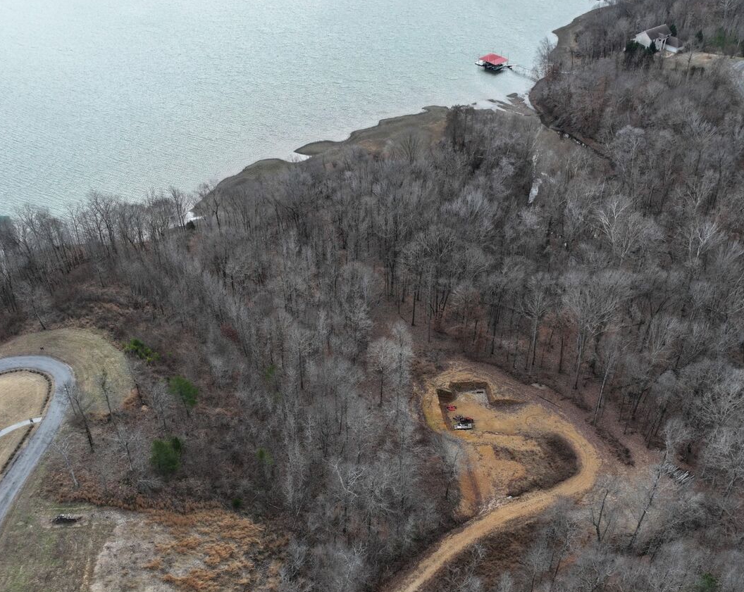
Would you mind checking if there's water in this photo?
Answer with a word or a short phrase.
Yes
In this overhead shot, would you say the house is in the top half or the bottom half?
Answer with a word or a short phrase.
top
